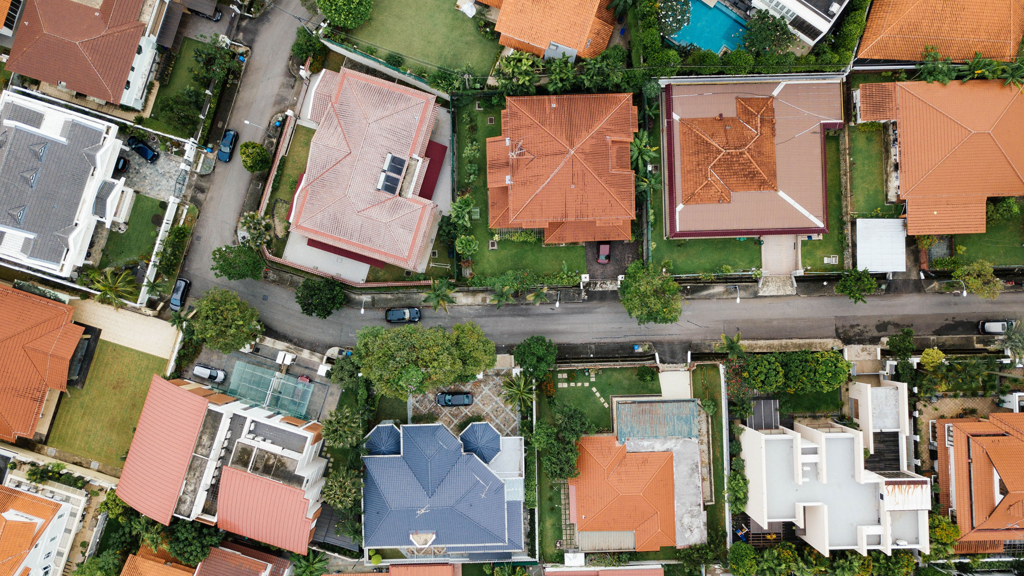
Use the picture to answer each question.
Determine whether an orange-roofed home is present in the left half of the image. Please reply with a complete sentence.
Yes, an orange-roofed home appears in the left half of the image.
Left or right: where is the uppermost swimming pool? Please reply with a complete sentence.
The uppermost swimming pool appears in the right half of the scene.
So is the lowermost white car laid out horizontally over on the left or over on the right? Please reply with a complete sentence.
You can find the lowermost white car laid out horizontally on the left side of the picture.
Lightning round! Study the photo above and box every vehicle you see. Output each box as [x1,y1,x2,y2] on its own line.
[385,307,421,322]
[437,391,473,408]
[114,156,138,174]
[191,9,227,24]
[977,319,1012,336]
[295,366,314,399]
[191,363,228,383]
[596,241,612,265]
[125,136,161,164]
[219,129,239,163]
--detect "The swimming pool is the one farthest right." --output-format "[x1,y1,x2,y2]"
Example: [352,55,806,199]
[676,0,746,53]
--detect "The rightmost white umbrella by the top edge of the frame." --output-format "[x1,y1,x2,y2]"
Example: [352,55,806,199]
[462,3,476,17]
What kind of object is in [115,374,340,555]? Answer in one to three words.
house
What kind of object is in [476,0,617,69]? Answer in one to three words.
house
